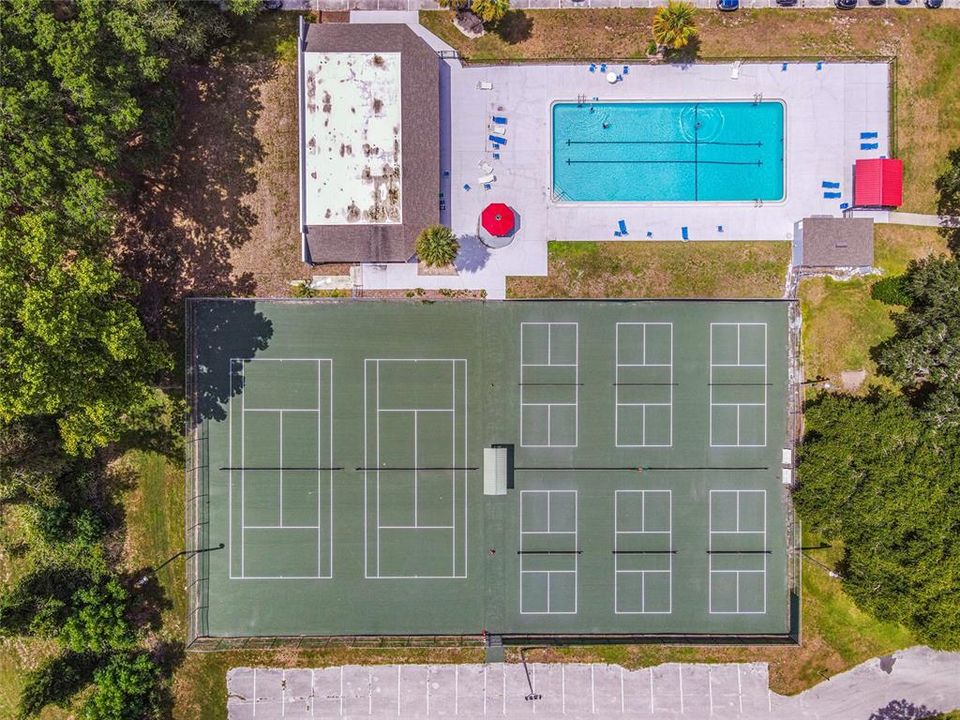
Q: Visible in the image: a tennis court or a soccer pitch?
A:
tennis court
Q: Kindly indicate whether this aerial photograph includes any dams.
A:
No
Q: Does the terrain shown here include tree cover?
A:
Yes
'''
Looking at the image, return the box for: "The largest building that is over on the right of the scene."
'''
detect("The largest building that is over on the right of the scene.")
[794,214,874,274]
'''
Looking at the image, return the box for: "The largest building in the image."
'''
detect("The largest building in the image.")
[300,15,441,269]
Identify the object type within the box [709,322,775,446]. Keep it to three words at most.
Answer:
sports court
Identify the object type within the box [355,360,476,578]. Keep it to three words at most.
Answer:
tennis court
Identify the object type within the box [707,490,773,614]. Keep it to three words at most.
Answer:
sports court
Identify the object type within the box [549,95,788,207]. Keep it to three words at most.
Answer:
swimming pool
